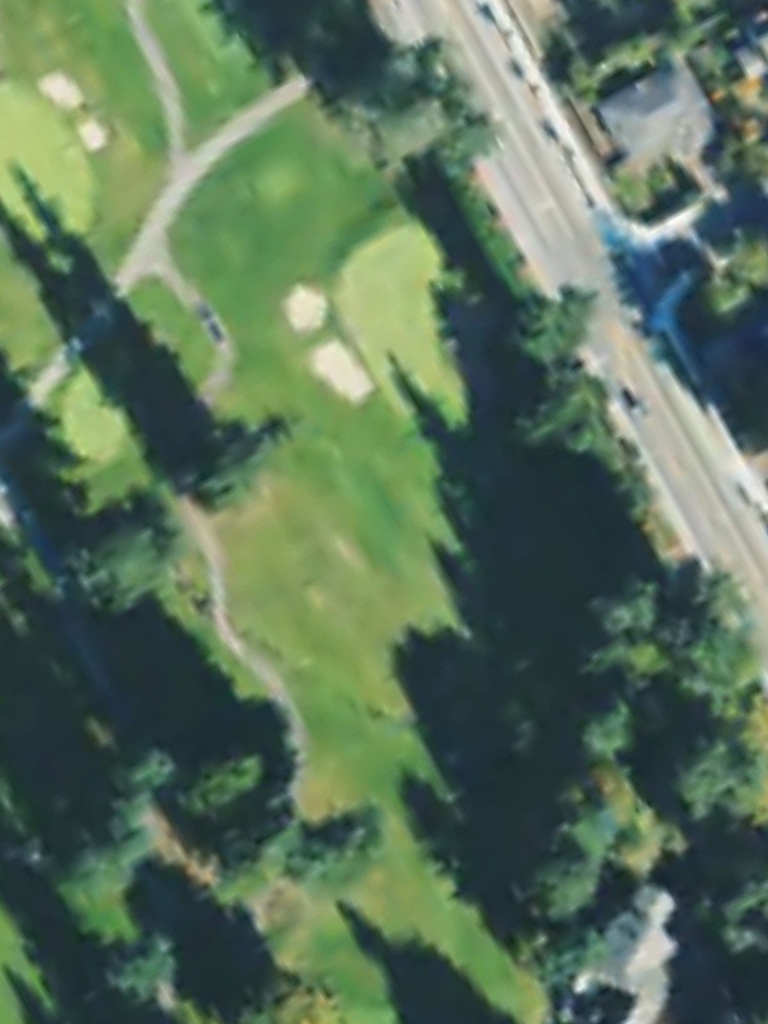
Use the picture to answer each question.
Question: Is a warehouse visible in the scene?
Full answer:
No, the frame has no warehouse in it.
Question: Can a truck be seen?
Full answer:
No, there appears to be no truck in this shot.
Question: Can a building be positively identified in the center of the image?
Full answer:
No, I see no building in the center of the image.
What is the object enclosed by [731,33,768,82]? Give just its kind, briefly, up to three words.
house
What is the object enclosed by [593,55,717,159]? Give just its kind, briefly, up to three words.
house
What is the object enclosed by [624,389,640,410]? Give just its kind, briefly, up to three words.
car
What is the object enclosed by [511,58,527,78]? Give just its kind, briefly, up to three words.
car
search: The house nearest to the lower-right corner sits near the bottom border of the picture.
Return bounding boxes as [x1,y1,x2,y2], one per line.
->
[604,914,677,991]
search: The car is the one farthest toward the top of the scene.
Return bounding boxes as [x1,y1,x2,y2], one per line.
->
[482,3,498,23]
